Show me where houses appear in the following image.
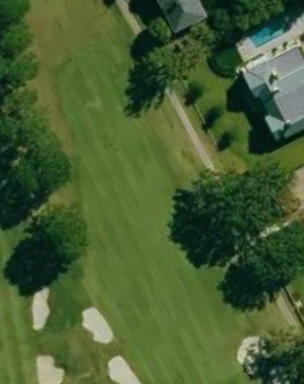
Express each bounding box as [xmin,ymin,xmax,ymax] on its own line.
[240,37,304,140]
[159,0,205,32]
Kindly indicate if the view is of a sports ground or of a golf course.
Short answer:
golf course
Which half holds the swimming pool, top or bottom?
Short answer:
top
